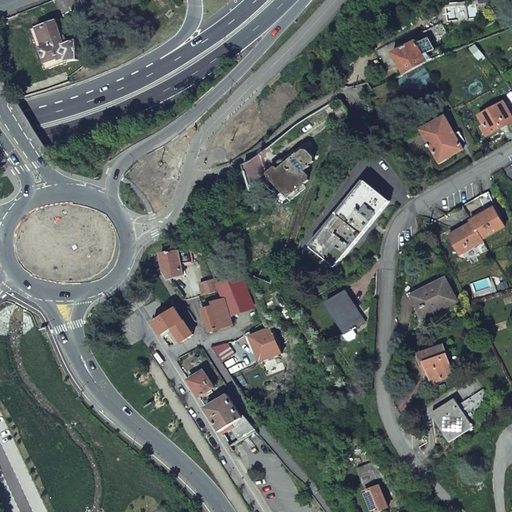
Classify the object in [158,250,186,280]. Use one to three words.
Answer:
house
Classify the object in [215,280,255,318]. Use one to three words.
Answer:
barn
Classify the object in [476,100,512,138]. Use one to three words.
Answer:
house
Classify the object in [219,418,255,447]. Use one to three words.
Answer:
building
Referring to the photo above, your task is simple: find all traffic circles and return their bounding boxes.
[0,171,136,302]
